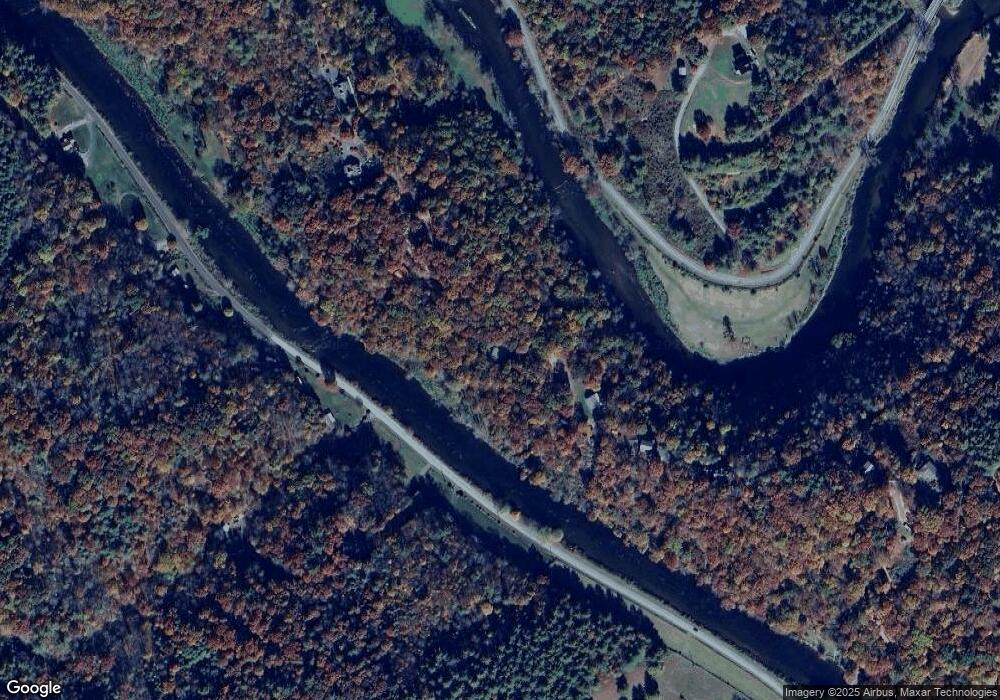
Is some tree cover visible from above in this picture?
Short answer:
Yes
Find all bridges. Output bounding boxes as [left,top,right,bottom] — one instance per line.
[904,0,941,52]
